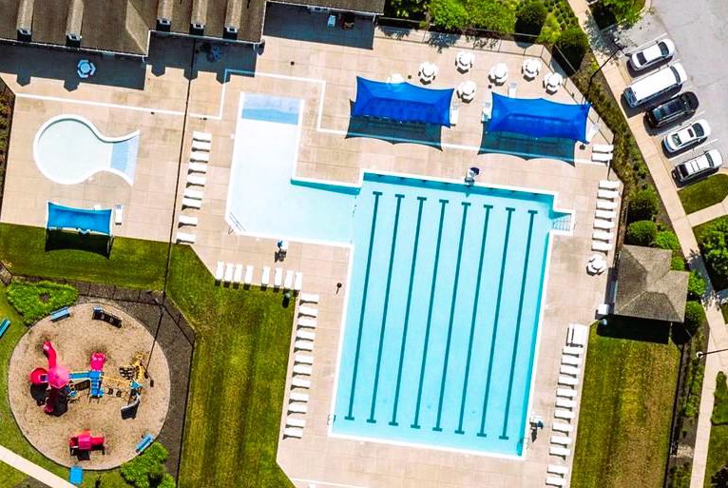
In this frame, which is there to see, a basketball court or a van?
van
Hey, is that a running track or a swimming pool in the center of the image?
swimming pool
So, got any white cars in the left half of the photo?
No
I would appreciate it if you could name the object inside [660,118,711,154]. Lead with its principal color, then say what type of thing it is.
white car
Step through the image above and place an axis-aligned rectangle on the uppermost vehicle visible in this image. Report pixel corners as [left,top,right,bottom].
[627,38,675,74]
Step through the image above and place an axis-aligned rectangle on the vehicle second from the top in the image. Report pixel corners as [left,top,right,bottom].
[623,64,688,108]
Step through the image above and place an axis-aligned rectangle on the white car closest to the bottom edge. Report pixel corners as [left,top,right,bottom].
[671,147,724,184]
